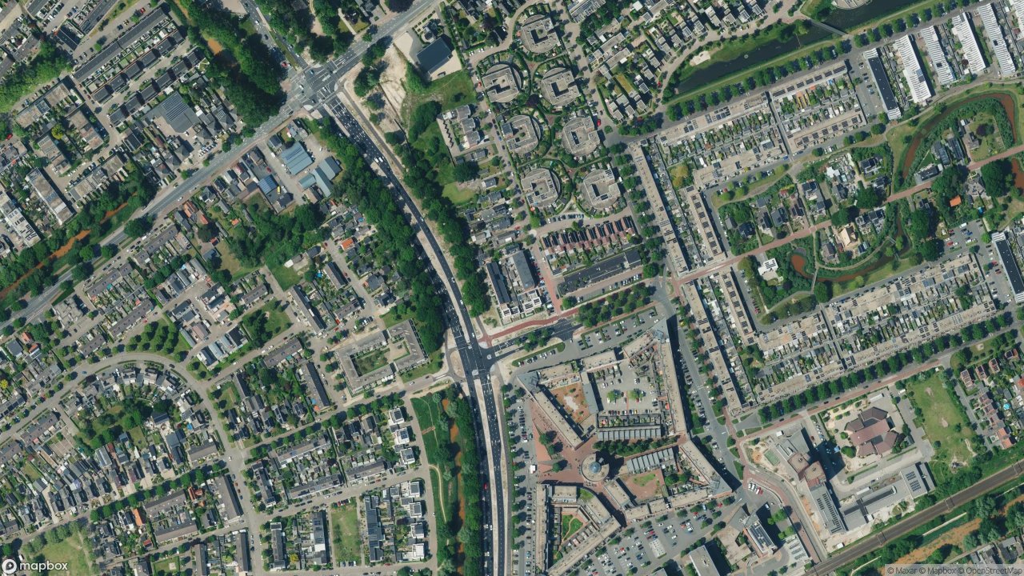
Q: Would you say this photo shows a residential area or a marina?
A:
residential area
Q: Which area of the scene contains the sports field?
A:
bottom right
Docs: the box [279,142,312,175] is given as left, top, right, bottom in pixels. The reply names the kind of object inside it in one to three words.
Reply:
building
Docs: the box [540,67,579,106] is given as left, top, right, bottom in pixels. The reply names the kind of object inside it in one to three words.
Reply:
building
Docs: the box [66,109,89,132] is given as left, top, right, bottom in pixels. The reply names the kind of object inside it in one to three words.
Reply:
house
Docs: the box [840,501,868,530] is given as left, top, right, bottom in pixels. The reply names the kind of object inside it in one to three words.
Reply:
house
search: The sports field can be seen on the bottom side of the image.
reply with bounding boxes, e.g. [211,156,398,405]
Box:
[909,372,977,472]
